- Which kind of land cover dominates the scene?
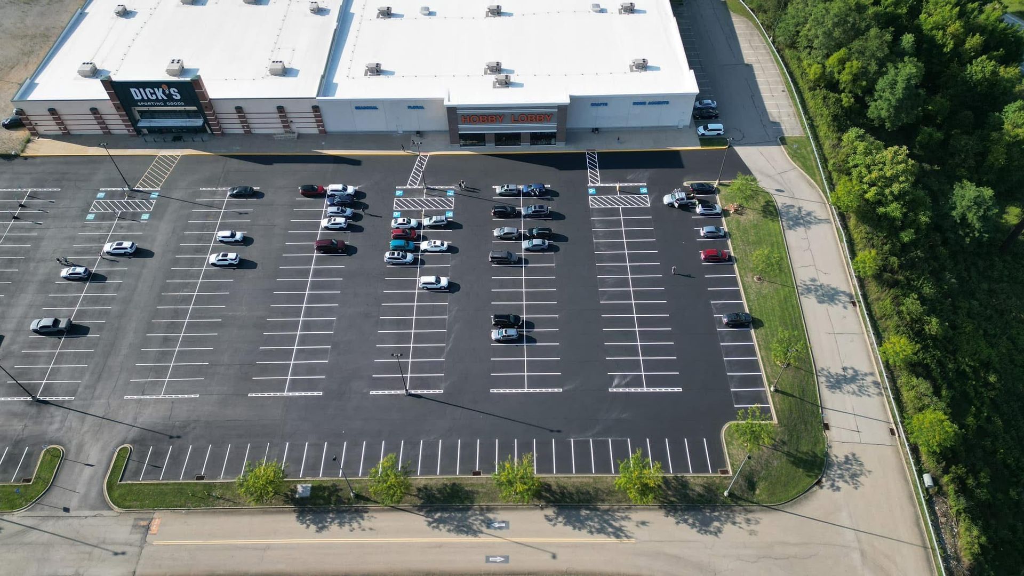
paved ground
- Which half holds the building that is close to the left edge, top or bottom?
top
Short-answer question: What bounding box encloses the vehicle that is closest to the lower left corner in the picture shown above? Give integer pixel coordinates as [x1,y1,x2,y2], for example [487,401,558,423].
[30,319,73,334]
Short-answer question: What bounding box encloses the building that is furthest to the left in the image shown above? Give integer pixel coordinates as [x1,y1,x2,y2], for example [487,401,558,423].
[11,0,347,137]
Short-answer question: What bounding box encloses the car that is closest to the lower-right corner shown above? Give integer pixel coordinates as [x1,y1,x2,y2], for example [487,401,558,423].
[721,313,752,327]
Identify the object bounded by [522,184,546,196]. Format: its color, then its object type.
blue vehicle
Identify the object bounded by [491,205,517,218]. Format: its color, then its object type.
black vehicle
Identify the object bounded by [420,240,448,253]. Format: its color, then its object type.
white vehicle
